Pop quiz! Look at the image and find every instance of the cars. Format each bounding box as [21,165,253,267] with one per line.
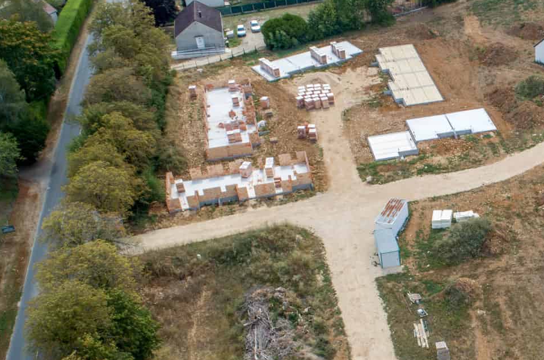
[249,18,261,30]
[235,23,246,35]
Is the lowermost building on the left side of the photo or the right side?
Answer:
right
